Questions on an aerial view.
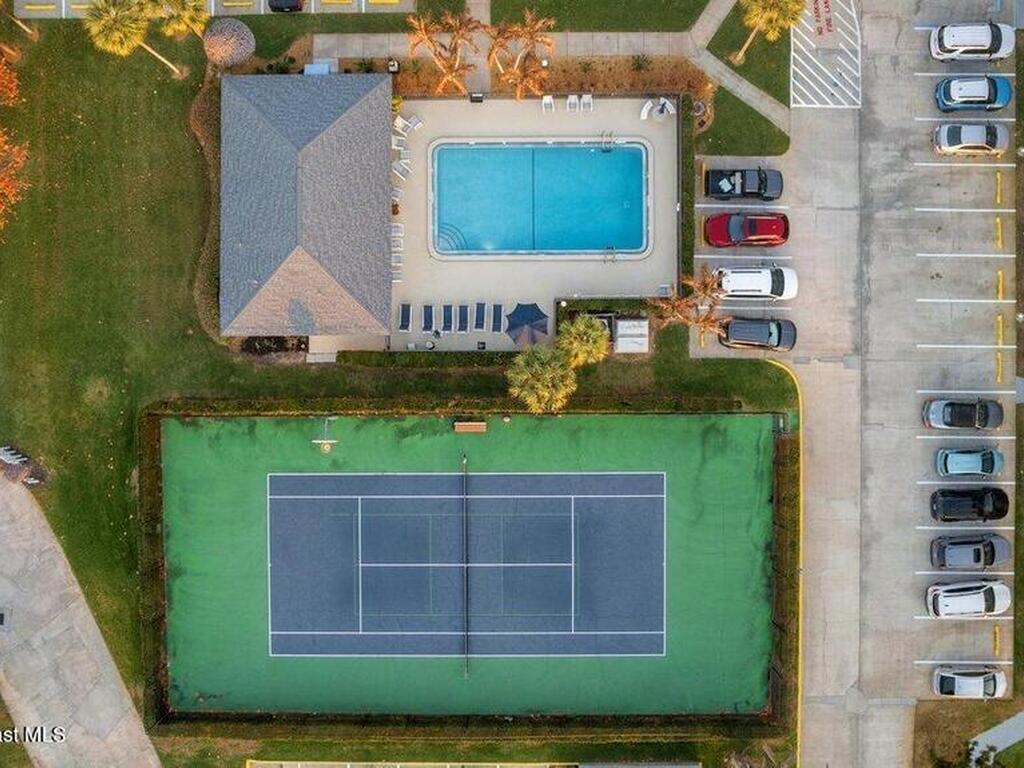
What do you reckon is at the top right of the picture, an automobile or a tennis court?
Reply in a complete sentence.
The feature located at the top right of the picture is an automobile.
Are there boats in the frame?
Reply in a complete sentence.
No, no boat can be seen from above.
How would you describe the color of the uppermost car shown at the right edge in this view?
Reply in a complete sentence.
From above, the uppermost car shown at the right edge appears white.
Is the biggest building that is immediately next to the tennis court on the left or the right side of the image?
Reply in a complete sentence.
The biggest building that is immediately next to the tennis court appears in the left half of the scene.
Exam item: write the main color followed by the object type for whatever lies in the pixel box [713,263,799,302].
white car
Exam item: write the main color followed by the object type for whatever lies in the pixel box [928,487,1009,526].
black car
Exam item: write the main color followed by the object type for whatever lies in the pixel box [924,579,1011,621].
white car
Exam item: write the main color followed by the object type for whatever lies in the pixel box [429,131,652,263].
blue swimming pool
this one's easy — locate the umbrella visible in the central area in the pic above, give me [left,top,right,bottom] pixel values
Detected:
[505,306,547,348]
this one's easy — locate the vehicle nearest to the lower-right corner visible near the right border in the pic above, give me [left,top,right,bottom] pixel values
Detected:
[930,663,1007,704]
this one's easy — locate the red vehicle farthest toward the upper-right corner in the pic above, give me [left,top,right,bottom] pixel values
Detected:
[703,209,790,248]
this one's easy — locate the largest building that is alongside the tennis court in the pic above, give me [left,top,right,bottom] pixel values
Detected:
[220,64,392,362]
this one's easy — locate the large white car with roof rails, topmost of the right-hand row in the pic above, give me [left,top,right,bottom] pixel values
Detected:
[929,18,1014,63]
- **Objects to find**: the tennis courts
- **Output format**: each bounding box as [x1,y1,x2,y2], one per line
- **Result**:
[160,413,798,713]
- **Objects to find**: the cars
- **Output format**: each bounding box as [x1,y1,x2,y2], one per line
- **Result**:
[269,0,304,14]
[713,263,799,302]
[930,663,1007,704]
[928,534,1010,573]
[718,315,797,352]
[934,73,1009,114]
[931,120,1009,159]
[920,397,1003,434]
[703,209,790,248]
[924,579,1011,621]
[928,487,1009,526]
[929,18,1014,63]
[934,445,1004,480]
